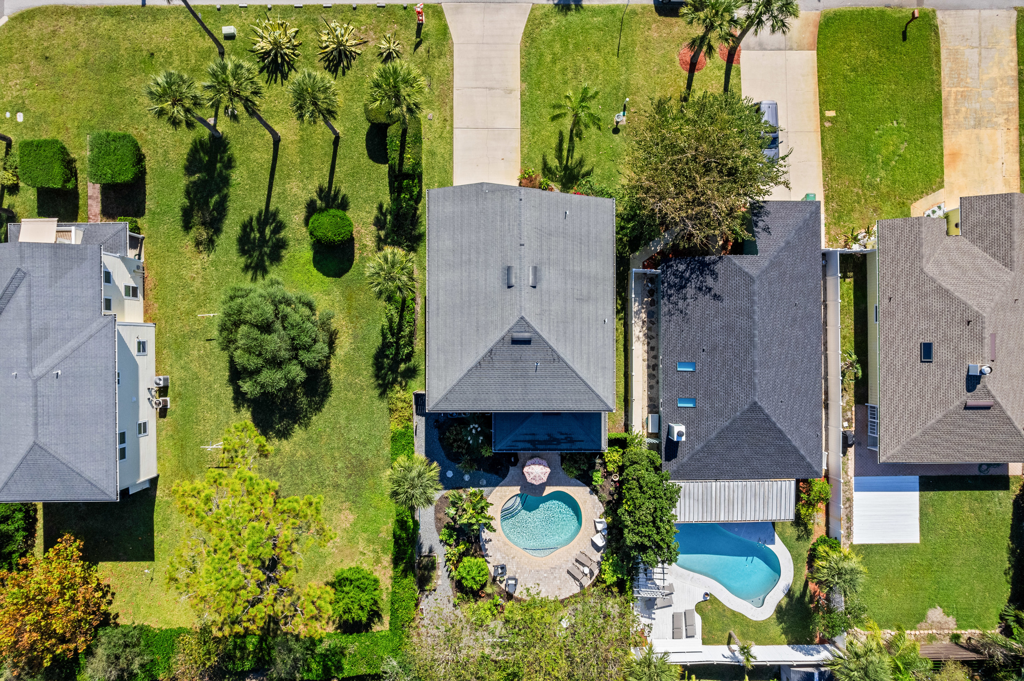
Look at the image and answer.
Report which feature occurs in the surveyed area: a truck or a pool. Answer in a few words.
pool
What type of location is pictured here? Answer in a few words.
residential area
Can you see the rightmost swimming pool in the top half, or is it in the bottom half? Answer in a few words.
bottom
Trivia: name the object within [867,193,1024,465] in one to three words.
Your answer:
house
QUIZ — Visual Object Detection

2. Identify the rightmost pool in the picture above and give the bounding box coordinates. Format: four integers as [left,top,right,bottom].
[674,524,781,608]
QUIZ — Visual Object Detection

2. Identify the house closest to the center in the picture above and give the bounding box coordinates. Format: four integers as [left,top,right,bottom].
[425,183,616,454]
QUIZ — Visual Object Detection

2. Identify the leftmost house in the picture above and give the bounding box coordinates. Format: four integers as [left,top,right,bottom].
[0,220,157,503]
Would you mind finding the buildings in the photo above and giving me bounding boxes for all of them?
[777,663,830,681]
[425,183,616,454]
[0,220,157,503]
[659,200,831,480]
[867,193,1024,465]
